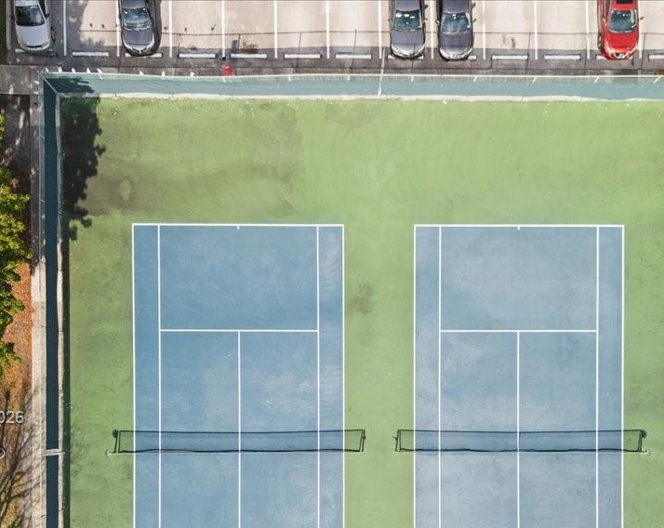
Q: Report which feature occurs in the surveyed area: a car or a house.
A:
car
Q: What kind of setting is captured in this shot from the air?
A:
sports ground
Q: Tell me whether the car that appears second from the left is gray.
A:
Yes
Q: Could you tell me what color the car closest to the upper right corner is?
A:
red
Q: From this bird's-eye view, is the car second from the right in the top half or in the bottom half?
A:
top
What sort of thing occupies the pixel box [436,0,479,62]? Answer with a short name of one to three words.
car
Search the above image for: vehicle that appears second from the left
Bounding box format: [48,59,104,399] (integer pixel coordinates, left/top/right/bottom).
[114,0,158,58]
